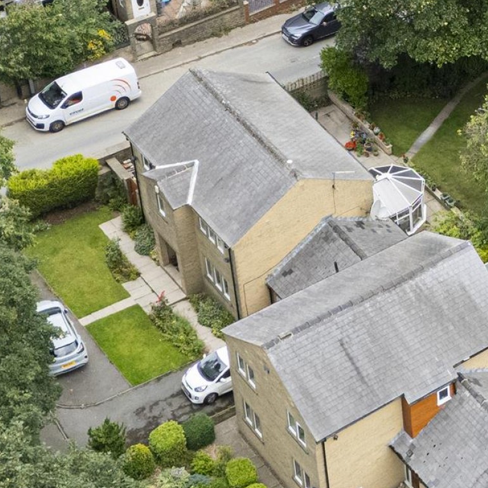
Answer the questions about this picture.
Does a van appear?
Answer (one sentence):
Yes, you can see a van in this photo.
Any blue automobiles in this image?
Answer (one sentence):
No, I find no blue automobile anywhere in the image.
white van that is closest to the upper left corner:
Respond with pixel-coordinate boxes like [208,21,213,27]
[28,57,135,132]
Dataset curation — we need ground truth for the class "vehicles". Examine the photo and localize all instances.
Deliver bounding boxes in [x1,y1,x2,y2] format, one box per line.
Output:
[282,0,355,45]
[181,338,233,398]
[28,57,135,132]
[31,295,94,374]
